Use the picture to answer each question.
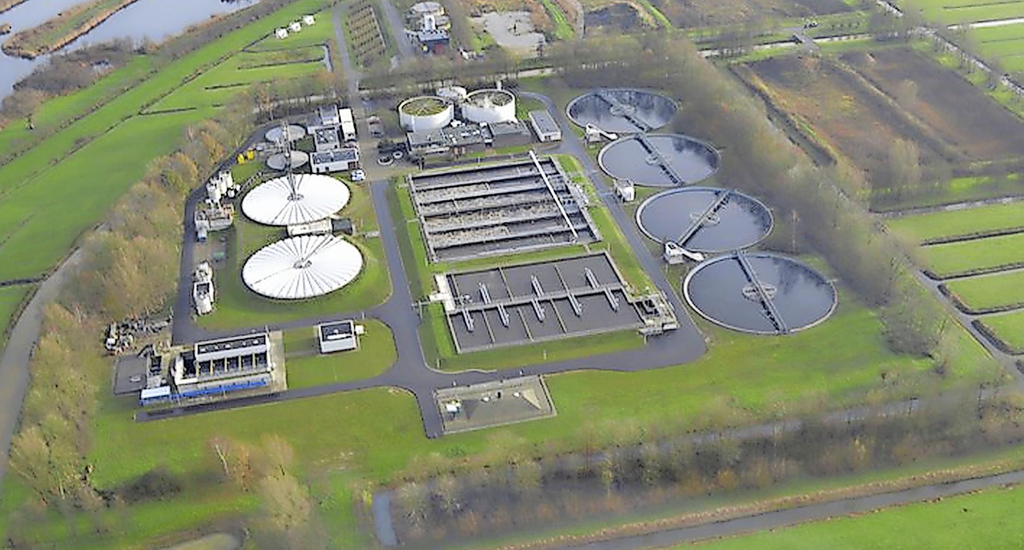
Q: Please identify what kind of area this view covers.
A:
industrial area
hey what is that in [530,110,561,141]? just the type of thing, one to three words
shed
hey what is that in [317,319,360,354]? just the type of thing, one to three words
building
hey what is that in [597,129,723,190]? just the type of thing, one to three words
storage tank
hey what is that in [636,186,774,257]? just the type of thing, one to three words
storage tank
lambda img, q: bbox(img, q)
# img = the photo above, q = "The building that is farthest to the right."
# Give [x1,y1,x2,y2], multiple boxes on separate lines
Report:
[611,182,637,200]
